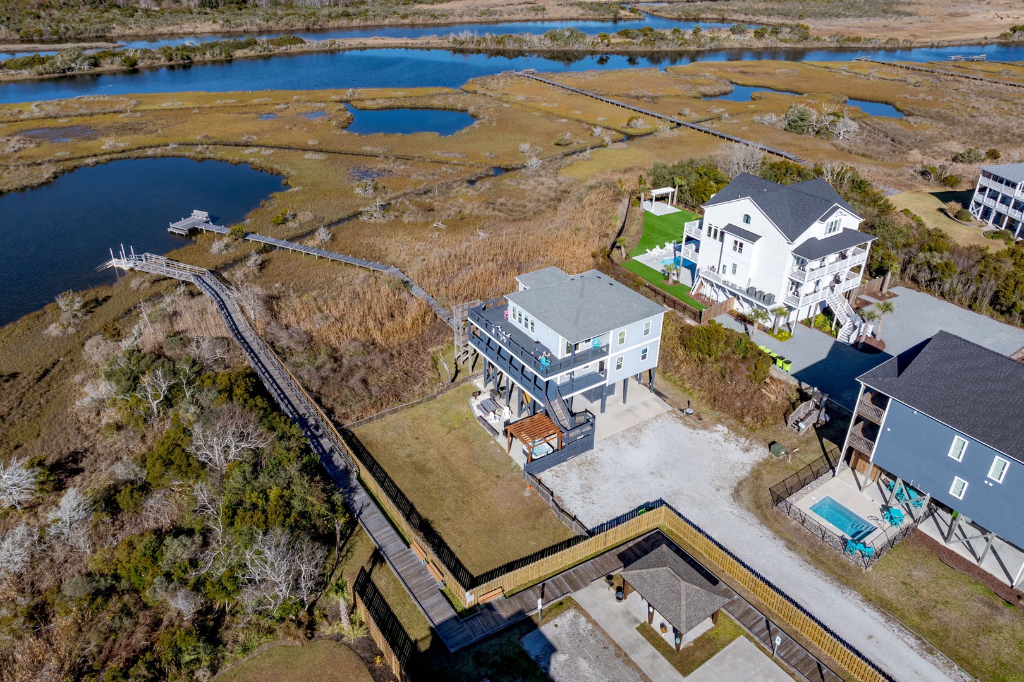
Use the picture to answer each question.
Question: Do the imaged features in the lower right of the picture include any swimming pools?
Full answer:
Yes, I can see a swimming pool in the lower right of the picture.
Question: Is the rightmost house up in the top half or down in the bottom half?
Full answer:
The rightmost house is in the top half of the image.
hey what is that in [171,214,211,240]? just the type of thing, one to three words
pier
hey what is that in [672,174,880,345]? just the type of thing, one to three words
house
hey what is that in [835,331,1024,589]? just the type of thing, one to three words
house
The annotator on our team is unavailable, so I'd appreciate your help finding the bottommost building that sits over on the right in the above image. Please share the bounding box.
[618,544,730,654]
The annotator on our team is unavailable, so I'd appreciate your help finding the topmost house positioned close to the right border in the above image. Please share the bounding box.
[969,164,1024,237]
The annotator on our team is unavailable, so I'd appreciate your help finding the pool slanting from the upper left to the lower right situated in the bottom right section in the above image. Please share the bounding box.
[807,494,879,542]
